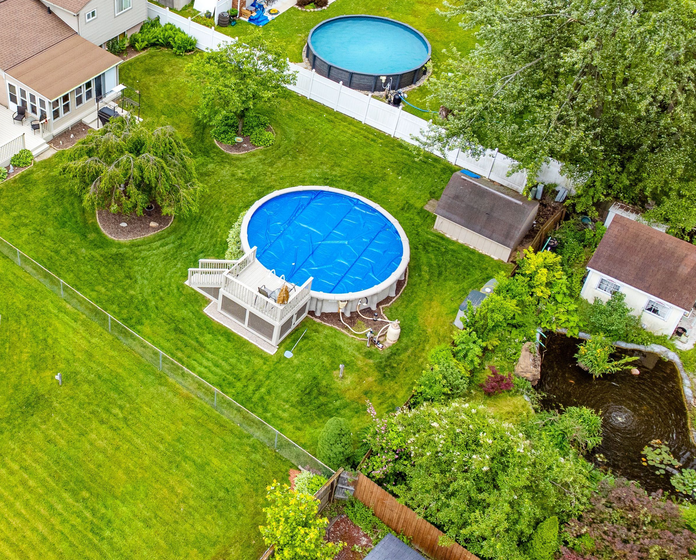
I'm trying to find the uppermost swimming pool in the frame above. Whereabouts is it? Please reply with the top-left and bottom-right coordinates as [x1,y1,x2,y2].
[306,15,431,92]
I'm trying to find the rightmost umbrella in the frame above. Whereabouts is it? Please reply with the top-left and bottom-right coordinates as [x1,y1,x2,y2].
[275,282,288,306]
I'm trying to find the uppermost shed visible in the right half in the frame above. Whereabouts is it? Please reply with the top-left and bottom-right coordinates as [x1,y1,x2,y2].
[432,172,542,260]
